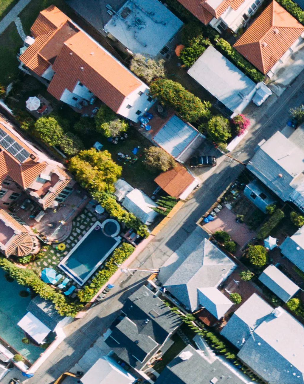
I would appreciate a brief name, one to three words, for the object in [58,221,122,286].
swimming pool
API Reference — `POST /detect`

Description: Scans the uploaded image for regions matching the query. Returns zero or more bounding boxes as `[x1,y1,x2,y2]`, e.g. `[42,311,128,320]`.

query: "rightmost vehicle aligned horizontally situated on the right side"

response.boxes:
[179,154,216,169]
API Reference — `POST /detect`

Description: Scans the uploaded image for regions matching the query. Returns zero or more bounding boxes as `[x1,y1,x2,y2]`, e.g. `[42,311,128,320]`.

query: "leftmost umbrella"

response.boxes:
[27,98,41,112]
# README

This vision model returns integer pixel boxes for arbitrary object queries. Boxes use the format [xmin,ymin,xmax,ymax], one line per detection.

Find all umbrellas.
[41,268,58,284]
[27,98,41,112]
[264,237,277,249]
